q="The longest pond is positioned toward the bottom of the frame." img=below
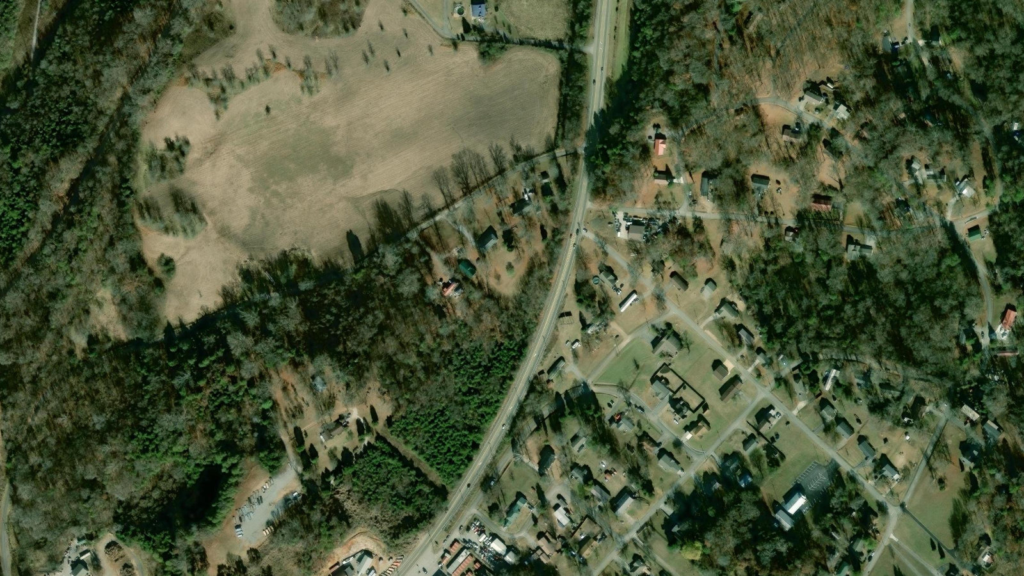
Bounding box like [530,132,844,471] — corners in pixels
[154,462,223,530]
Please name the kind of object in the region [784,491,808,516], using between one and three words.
building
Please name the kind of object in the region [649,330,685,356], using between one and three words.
house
